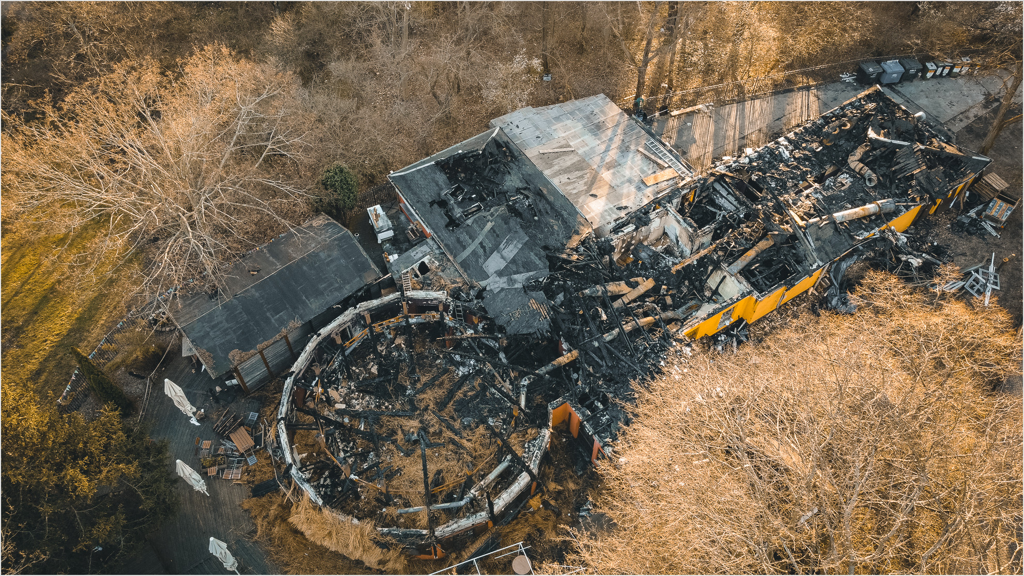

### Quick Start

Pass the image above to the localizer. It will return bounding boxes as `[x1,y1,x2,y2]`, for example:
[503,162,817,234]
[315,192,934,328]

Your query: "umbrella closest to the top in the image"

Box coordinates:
[166,380,203,429]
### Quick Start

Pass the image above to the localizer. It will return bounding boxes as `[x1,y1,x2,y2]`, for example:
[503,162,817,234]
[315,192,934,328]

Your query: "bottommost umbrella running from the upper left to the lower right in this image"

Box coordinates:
[206,545,244,576]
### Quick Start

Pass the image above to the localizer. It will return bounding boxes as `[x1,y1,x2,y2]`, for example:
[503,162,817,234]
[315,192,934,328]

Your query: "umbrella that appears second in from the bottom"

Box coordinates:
[176,456,215,502]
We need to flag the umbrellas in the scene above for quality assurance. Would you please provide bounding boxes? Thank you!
[166,380,203,429]
[176,456,215,502]
[206,545,244,576]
